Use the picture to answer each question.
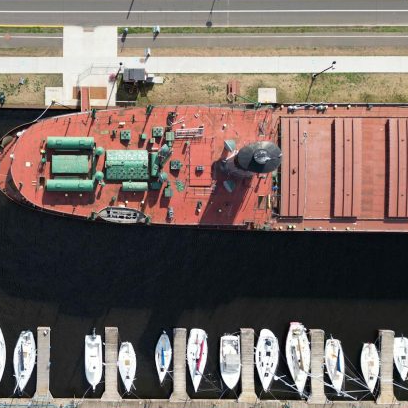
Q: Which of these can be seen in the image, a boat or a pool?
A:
boat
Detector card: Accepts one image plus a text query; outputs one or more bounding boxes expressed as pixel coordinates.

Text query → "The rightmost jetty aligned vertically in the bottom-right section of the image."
[374,328,399,397]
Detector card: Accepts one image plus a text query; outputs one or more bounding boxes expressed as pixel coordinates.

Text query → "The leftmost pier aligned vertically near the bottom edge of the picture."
[33,326,56,397]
